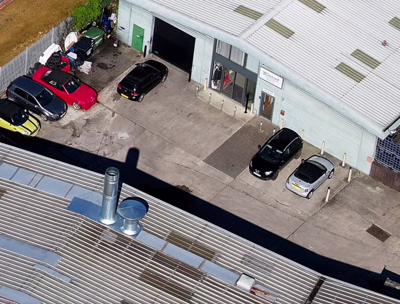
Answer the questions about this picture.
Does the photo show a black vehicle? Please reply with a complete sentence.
Yes, the frame does contain a black vehicle.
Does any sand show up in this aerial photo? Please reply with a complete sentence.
No, there's no sand in this view.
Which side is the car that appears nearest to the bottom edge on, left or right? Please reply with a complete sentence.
The car that appears nearest to the bottom edge appears in the right half of the scene.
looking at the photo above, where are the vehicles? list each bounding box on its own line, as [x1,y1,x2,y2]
[115,58,168,103]
[5,72,66,120]
[51,63,101,111]
[286,157,335,199]
[0,96,42,137]
[247,126,307,182]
